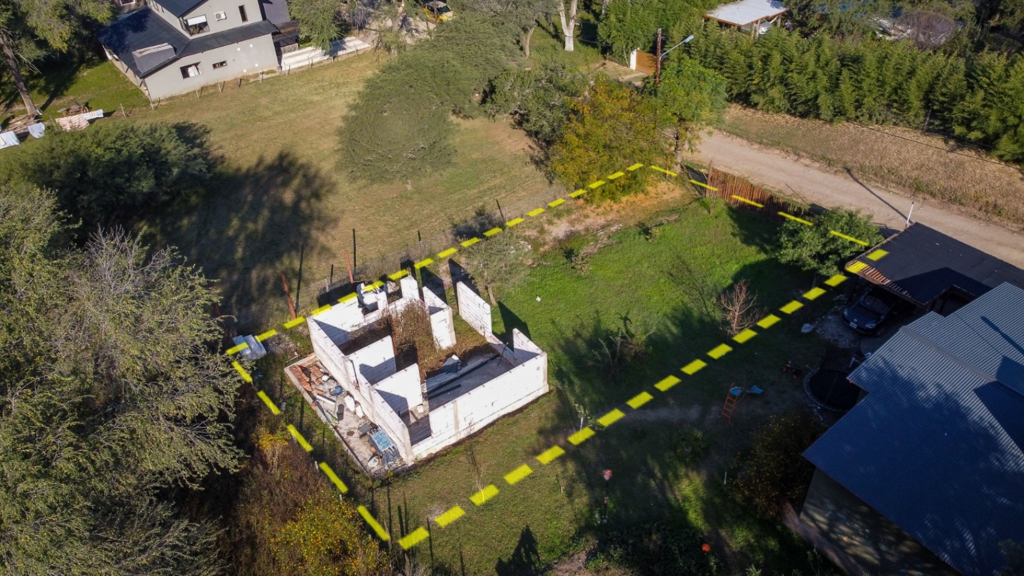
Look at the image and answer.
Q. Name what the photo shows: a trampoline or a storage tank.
trampoline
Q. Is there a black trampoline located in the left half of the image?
No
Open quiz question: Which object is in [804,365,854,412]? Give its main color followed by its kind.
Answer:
black trampoline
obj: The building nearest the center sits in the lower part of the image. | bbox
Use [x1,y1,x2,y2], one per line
[312,274,553,466]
